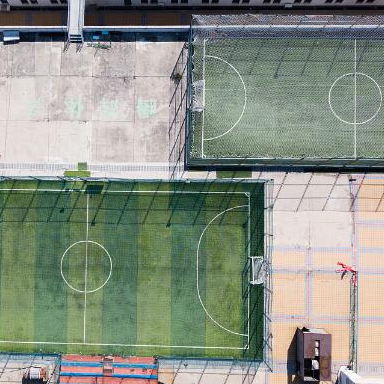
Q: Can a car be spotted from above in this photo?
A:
No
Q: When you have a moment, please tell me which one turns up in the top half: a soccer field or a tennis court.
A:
soccer field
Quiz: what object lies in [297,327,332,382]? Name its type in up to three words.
shed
